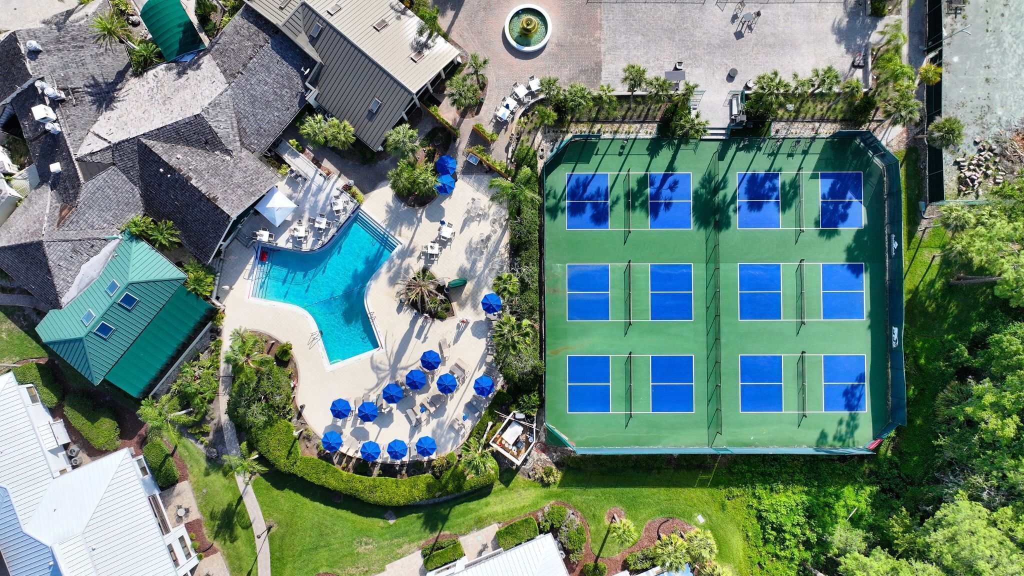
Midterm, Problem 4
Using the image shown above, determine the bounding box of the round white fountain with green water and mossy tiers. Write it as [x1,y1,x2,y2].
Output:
[505,4,551,53]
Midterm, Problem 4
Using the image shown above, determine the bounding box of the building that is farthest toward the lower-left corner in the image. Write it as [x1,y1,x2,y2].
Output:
[0,371,200,576]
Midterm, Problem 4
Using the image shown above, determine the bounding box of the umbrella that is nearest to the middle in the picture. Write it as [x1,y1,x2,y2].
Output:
[480,293,501,315]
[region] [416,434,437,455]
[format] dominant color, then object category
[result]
blue umbrella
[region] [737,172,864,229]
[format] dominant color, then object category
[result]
blue sports court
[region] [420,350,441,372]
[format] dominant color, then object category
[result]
blue umbrella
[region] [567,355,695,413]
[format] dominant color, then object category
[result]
blue sports court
